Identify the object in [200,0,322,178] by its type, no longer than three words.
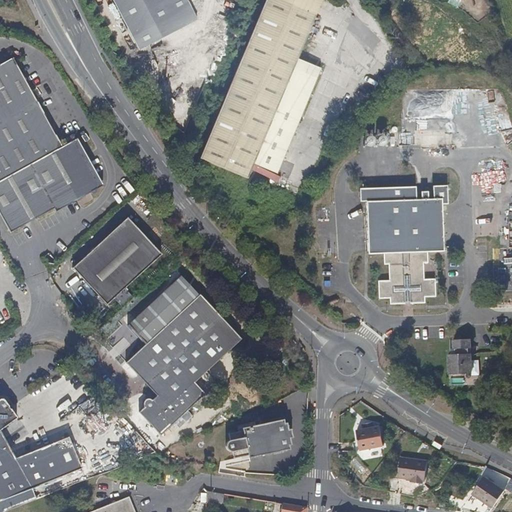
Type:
warehouse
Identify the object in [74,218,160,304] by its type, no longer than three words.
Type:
building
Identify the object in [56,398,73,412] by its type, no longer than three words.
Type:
vehicle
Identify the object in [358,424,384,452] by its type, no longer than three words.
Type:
house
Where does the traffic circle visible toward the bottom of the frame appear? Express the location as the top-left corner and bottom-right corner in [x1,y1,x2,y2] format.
[312,326,386,413]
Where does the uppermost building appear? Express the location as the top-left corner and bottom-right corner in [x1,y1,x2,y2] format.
[114,0,197,49]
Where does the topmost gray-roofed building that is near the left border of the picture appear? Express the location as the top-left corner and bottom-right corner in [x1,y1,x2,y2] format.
[0,58,62,180]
